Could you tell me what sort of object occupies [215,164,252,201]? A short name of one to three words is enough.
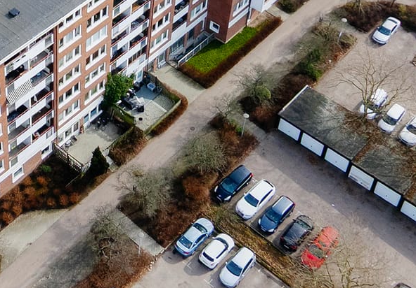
car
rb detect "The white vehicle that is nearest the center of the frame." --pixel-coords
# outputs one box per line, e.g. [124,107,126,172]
[238,178,274,218]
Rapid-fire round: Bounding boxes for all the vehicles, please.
[373,14,401,42]
[303,228,338,264]
[279,215,314,250]
[401,115,416,143]
[215,164,252,201]
[238,178,274,218]
[175,217,213,256]
[199,232,235,269]
[220,246,254,287]
[259,193,295,232]
[378,103,407,133]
